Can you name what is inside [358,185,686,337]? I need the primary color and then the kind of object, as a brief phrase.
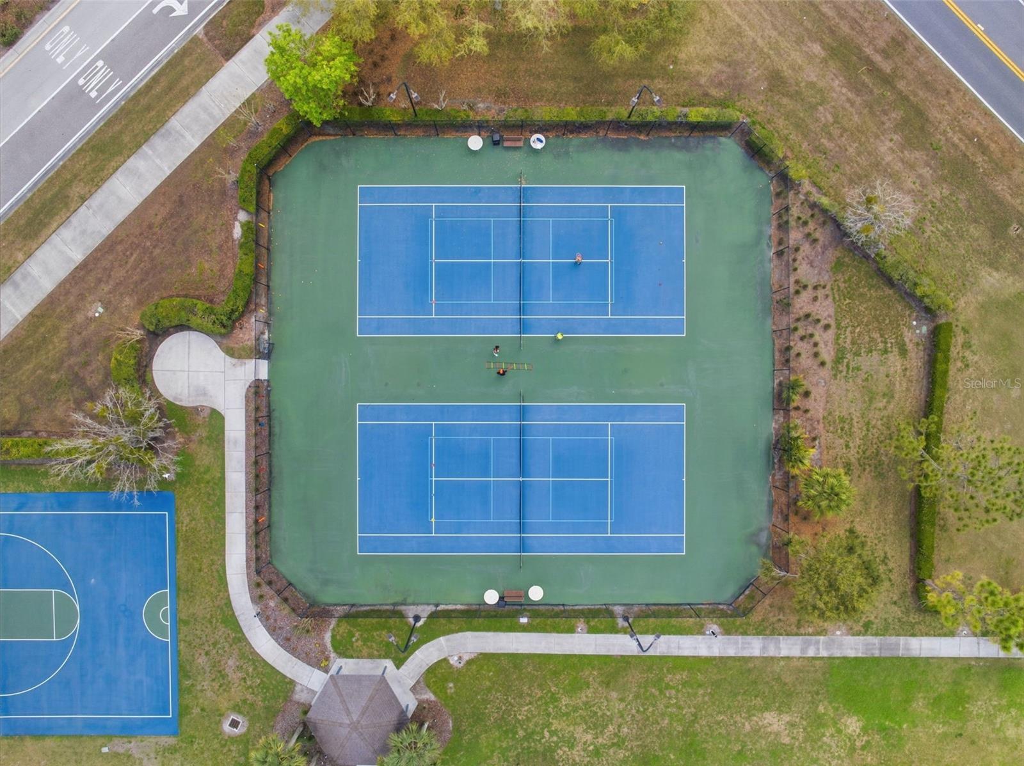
blue tennis court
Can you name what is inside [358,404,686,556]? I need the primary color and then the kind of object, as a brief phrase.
blue tennis court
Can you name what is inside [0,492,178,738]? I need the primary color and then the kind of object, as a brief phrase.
blue basketball court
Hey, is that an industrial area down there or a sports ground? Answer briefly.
sports ground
